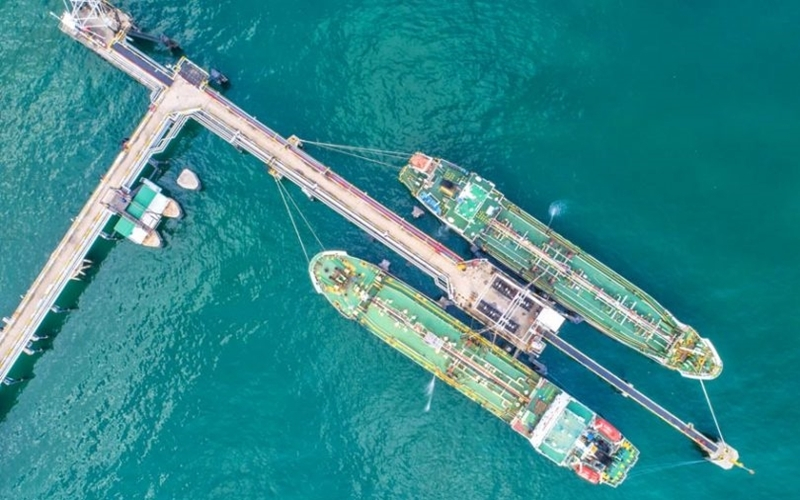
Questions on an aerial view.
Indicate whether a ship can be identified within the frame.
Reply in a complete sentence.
Yes, there's a ship down there.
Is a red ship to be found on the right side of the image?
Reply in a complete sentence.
No, there's no red ship to be seen on the right side of the image.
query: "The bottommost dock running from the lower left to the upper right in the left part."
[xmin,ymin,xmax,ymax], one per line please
[0,116,175,384]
